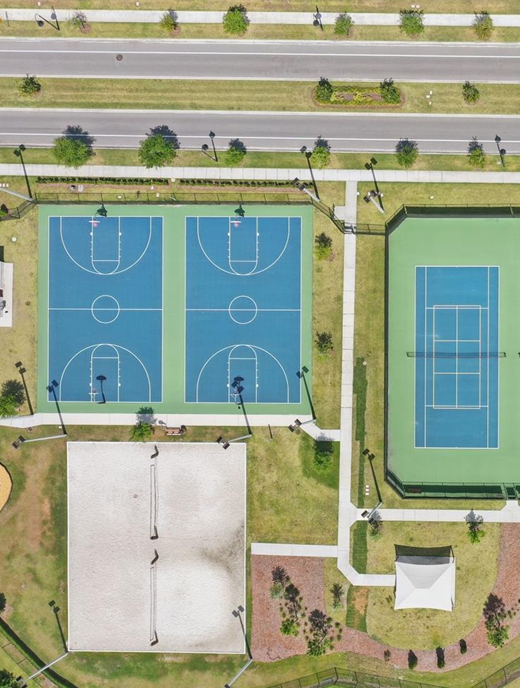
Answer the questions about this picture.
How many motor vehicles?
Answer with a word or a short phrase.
0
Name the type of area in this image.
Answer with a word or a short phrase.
sports ground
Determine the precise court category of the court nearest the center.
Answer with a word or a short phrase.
basketball court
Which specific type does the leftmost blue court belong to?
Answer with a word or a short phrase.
basketball court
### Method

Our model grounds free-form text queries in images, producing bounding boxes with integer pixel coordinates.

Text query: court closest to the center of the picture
[174,204,312,414]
